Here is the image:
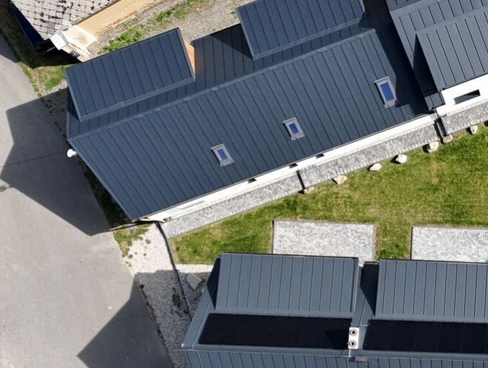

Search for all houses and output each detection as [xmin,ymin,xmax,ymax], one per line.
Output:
[14,0,171,45]
[67,0,441,225]
[183,249,488,368]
